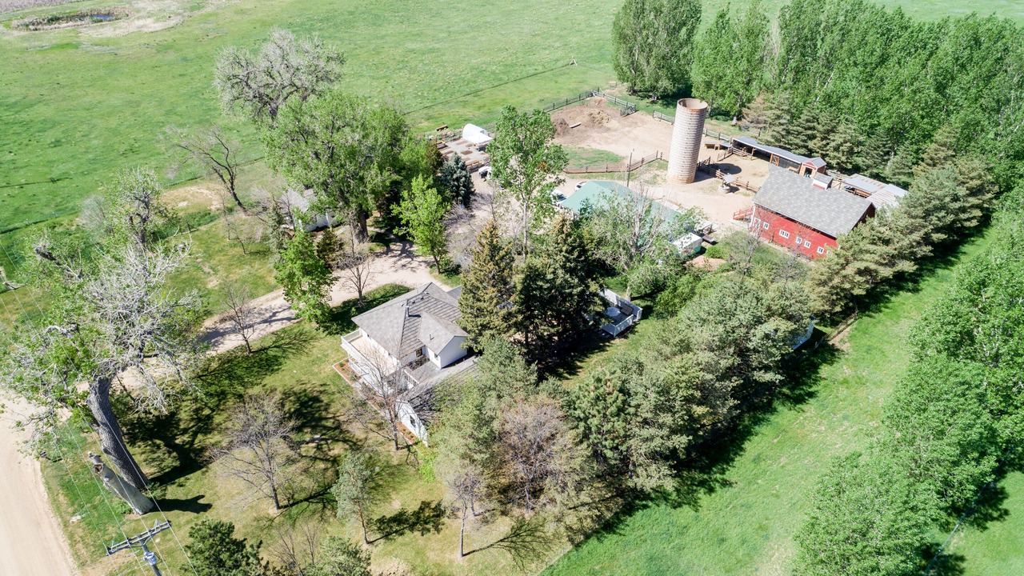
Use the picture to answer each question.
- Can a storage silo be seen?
Yes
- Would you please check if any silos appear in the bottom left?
No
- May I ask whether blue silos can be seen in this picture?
No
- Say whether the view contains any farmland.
Yes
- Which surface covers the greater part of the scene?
trees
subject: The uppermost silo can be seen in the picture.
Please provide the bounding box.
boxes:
[667,96,709,184]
